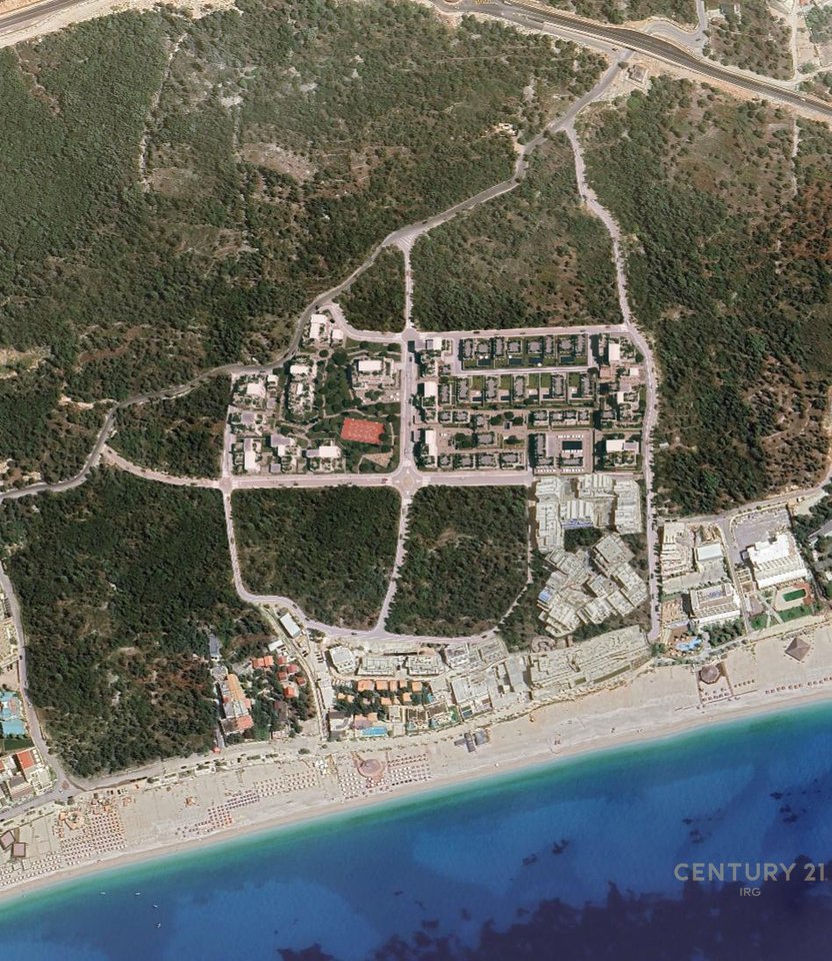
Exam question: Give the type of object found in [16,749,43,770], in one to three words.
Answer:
house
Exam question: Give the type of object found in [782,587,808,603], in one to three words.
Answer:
swimming pool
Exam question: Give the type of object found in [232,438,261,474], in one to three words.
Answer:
building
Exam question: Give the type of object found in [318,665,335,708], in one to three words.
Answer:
shed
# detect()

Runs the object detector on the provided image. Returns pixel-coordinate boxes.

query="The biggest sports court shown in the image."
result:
[341,419,384,445]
